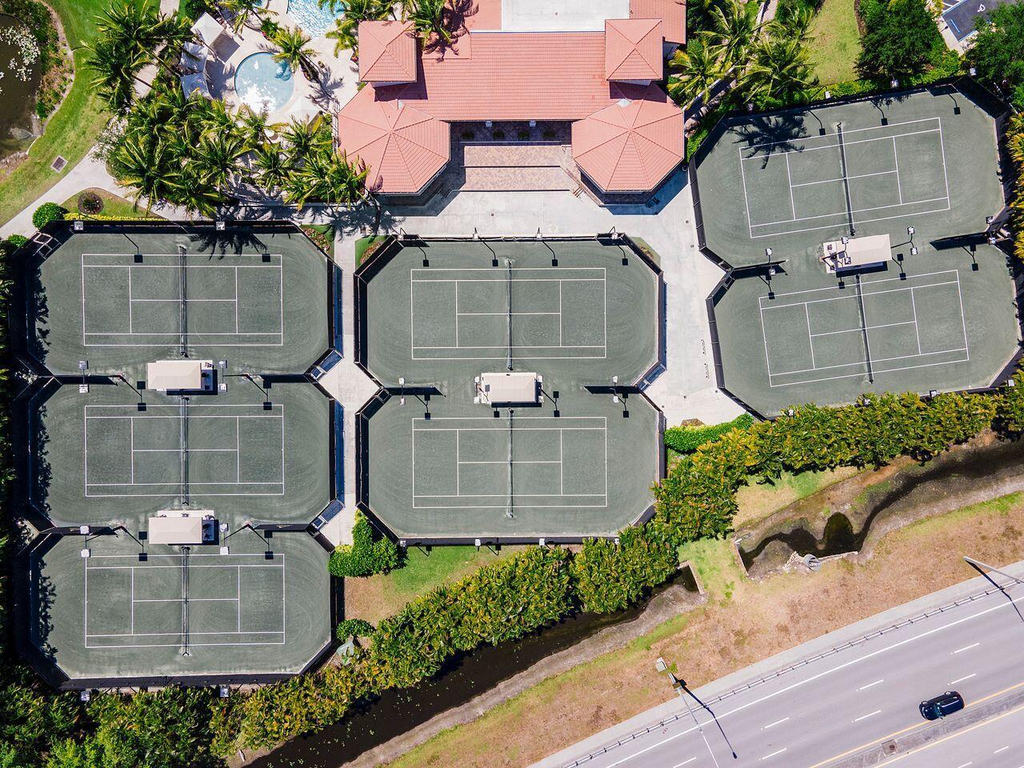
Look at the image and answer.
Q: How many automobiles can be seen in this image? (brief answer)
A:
1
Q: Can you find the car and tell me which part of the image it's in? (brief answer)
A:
bottom right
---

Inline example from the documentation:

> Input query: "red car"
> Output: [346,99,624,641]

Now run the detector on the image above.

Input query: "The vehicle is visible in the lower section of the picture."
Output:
[924,693,967,721]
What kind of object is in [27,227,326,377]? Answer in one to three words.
tennis court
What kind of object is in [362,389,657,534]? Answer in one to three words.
tennis court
